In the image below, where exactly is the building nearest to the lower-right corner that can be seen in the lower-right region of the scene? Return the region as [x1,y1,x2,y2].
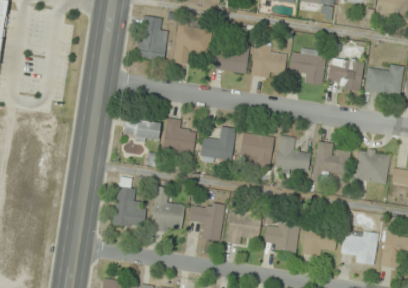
[381,232,408,270]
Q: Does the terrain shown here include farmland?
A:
No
